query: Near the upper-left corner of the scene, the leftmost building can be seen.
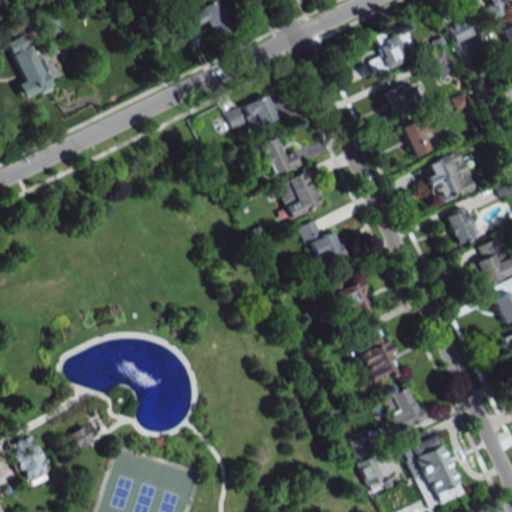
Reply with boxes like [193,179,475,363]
[12,37,56,100]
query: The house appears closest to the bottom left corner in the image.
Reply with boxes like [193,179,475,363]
[12,432,50,490]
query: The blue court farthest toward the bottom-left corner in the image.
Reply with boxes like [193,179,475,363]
[110,476,133,510]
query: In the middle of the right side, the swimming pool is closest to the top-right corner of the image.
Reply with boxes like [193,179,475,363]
[474,202,512,236]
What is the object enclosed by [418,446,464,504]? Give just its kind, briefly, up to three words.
house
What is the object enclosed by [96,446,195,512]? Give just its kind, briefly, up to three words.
sports court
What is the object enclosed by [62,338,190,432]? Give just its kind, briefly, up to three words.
pond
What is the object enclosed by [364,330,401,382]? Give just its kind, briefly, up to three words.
house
